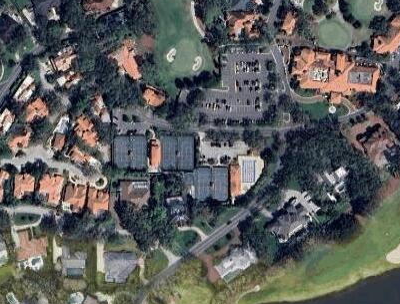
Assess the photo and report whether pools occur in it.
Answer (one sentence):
Yes, the photo shows a pool.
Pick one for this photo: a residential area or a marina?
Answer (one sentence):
What you see here is a residential area.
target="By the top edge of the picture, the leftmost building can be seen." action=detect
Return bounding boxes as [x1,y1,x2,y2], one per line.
[0,8,37,50]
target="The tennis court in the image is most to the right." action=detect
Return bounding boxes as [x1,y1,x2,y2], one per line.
[211,166,228,199]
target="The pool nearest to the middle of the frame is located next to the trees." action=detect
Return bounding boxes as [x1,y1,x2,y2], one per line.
[238,155,263,195]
